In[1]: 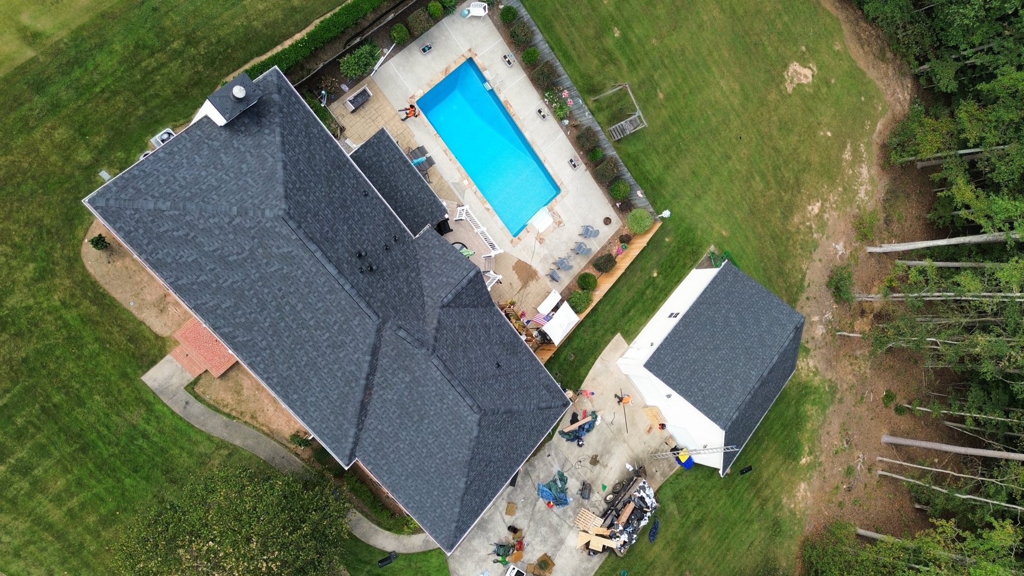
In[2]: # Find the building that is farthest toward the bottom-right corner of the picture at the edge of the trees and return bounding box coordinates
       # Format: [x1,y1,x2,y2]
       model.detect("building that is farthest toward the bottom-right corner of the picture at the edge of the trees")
[615,259,805,477]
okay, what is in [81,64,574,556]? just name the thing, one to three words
house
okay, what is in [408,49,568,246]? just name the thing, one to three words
swimming pool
